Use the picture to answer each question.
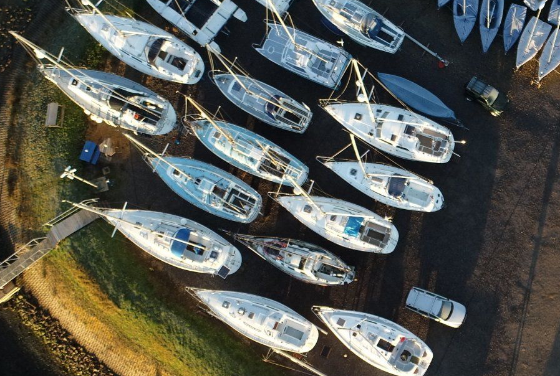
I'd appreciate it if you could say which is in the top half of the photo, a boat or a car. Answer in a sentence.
Looking in the top half of the photo, you will find a boat.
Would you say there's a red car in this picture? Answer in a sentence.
No, this view has no red car in it.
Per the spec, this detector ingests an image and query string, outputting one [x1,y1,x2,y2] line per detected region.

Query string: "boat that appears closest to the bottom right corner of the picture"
[307,305,438,375]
